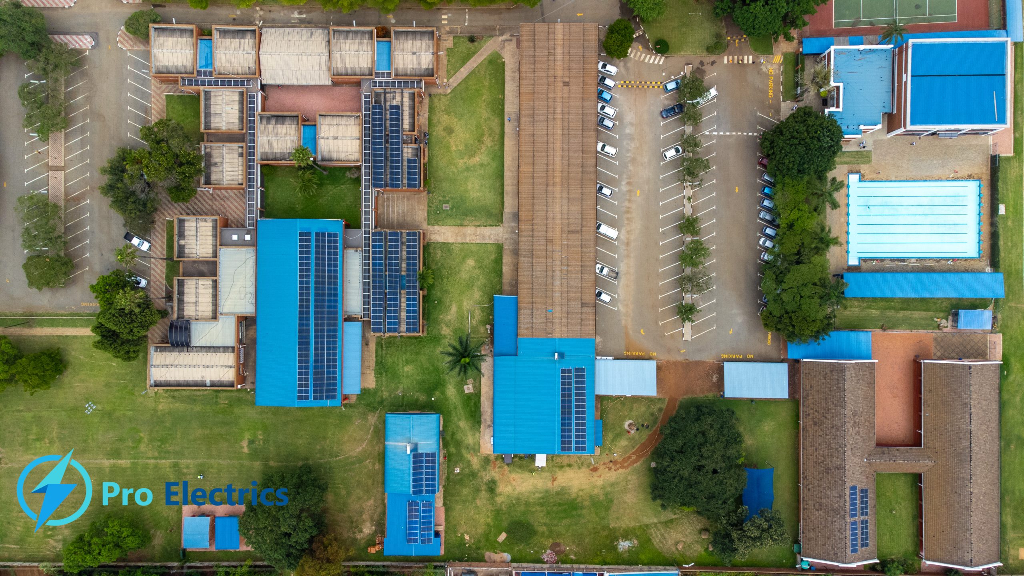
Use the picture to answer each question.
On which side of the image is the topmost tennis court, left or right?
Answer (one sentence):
The topmost tennis court appears in the right half of the scene.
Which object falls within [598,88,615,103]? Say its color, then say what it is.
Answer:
blue car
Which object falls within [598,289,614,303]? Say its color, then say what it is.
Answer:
white car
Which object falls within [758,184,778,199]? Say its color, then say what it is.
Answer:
blue car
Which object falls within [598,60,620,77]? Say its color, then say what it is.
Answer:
white car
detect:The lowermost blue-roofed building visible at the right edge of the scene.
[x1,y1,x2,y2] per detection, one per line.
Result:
[951,310,993,329]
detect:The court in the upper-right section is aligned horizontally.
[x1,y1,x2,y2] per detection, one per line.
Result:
[805,0,990,37]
